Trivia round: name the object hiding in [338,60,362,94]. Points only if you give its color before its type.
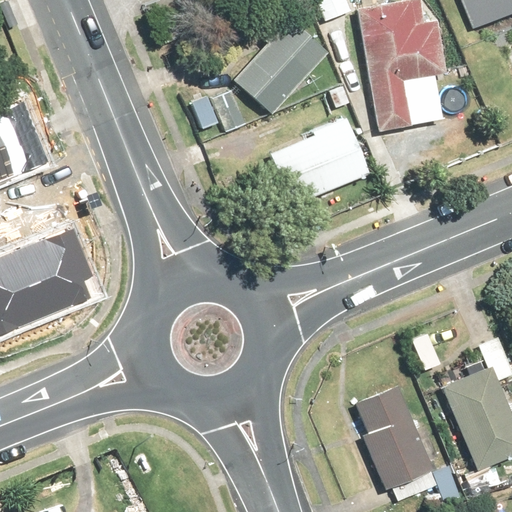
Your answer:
white car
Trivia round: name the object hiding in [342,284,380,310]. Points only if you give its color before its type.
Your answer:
white truck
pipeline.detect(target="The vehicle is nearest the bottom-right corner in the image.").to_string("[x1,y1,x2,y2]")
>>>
[428,325,459,344]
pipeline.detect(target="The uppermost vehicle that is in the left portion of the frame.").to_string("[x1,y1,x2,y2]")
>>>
[80,14,103,50]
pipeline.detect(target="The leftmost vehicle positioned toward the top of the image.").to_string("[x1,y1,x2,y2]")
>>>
[6,182,37,200]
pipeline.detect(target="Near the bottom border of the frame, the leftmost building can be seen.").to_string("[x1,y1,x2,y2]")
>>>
[354,385,437,501]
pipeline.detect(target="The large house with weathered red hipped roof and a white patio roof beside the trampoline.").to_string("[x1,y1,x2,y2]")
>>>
[358,0,447,135]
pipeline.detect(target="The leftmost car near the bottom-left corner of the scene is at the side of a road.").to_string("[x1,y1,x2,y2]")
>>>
[0,444,28,466]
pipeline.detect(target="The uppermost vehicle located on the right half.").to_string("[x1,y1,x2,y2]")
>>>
[328,27,352,64]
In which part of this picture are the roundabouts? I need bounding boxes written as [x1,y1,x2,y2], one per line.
[170,302,244,376]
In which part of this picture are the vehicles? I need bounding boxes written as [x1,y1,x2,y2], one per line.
[40,166,74,186]
[198,72,233,92]
[80,14,103,50]
[503,172,512,188]
[502,236,512,253]
[30,500,65,512]
[434,201,460,218]
[428,325,459,344]
[328,27,352,64]
[342,284,380,310]
[6,182,37,200]
[0,444,28,466]
[338,60,362,94]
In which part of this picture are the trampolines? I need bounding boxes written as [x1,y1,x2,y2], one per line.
[440,86,467,114]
